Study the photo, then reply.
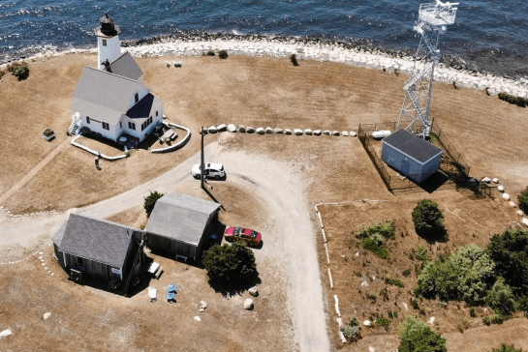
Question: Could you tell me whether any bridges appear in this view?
No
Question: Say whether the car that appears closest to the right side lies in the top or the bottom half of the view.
bottom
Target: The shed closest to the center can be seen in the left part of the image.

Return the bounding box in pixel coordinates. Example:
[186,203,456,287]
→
[146,192,221,259]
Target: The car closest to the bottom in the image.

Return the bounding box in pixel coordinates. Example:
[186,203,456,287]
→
[223,222,263,242]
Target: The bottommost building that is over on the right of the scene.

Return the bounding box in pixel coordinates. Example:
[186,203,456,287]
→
[381,128,443,183]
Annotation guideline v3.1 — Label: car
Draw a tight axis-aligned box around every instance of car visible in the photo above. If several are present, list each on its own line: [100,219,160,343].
[223,222,263,242]
[192,158,226,174]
